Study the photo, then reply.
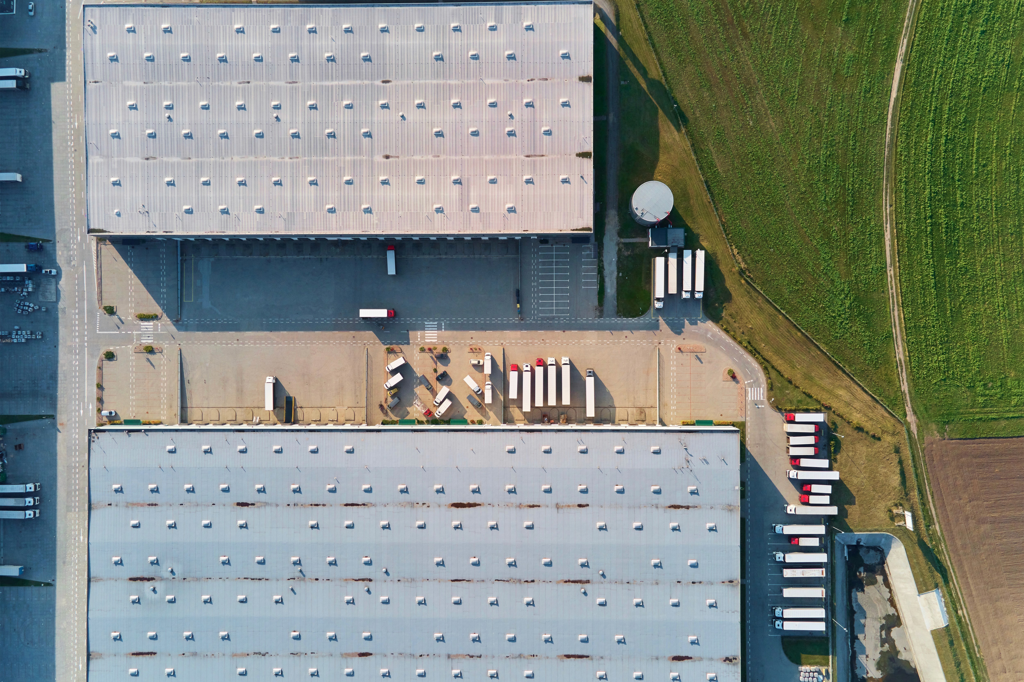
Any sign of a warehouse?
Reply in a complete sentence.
Yes, a warehouse is visible in the scene.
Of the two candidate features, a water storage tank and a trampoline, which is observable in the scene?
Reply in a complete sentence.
This aerial view contains a water storage tank.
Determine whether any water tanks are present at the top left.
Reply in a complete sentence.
No, I can find no water tank at the top left.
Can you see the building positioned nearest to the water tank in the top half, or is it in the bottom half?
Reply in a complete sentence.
The building positioned nearest to the water tank sits in the top half of the picture.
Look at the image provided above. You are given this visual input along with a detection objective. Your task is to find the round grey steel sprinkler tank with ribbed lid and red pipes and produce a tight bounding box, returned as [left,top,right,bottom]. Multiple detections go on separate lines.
[629,180,673,227]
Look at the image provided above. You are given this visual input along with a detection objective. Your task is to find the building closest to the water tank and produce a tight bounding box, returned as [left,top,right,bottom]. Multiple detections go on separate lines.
[648,224,686,247]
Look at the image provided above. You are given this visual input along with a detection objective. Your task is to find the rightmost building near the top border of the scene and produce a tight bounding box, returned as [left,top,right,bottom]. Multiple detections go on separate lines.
[81,0,593,245]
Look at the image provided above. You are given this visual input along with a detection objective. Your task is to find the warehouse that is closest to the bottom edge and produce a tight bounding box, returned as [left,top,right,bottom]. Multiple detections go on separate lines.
[86,418,741,682]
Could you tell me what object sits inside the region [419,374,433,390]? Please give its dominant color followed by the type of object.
gray vehicle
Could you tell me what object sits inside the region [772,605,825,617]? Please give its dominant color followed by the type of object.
white vehicle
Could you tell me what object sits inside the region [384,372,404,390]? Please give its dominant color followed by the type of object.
white vehicle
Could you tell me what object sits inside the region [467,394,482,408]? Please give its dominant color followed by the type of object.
gray vehicle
